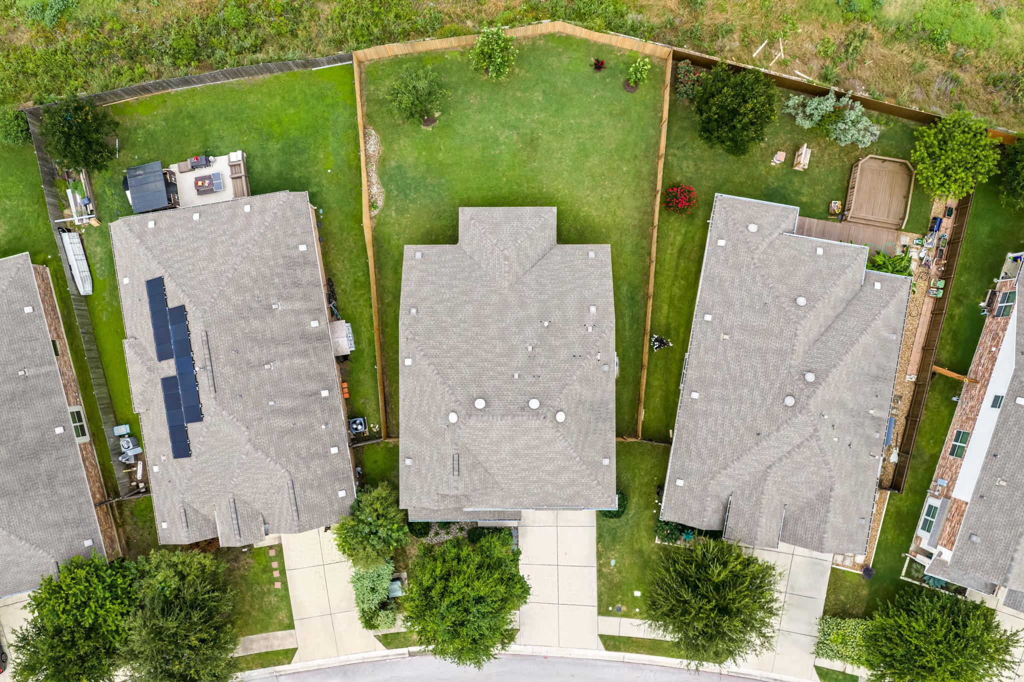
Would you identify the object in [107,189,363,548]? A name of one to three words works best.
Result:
house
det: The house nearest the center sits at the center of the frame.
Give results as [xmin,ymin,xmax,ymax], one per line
[398,206,618,526]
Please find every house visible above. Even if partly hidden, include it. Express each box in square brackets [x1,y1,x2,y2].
[658,191,913,554]
[0,253,126,598]
[398,206,618,526]
[908,249,1024,613]
[107,189,363,548]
